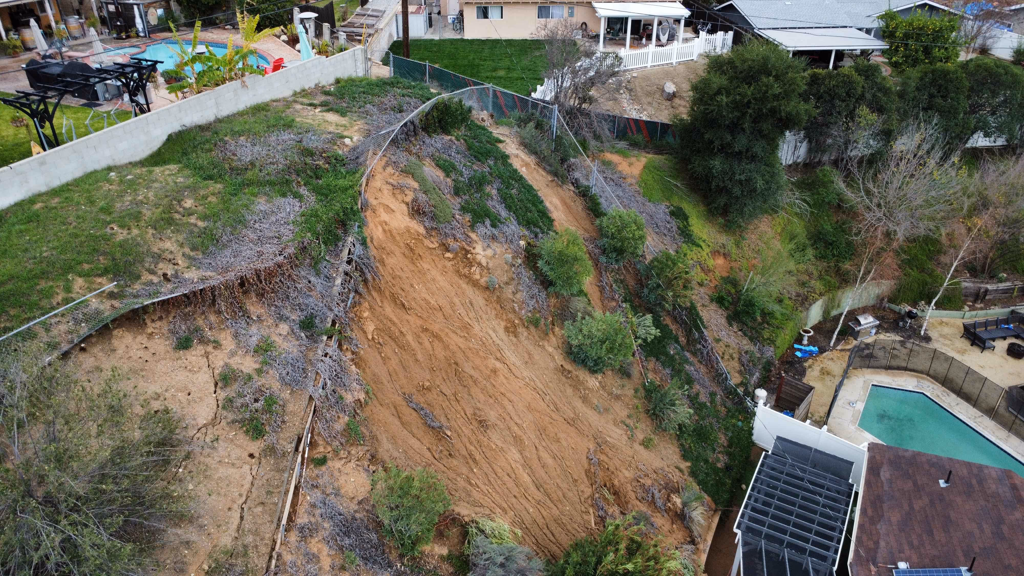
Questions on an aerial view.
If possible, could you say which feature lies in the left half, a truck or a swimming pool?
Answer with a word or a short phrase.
swimming pool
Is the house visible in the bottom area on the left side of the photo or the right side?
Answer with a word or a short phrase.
right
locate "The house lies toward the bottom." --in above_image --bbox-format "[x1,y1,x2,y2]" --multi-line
[840,440,1024,576]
